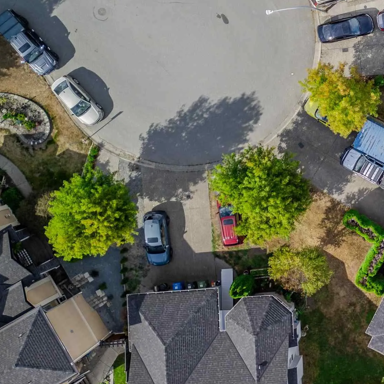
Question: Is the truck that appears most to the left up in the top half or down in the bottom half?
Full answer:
The truck that appears most to the left is in the top half of the image.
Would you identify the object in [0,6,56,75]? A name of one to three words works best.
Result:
truck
